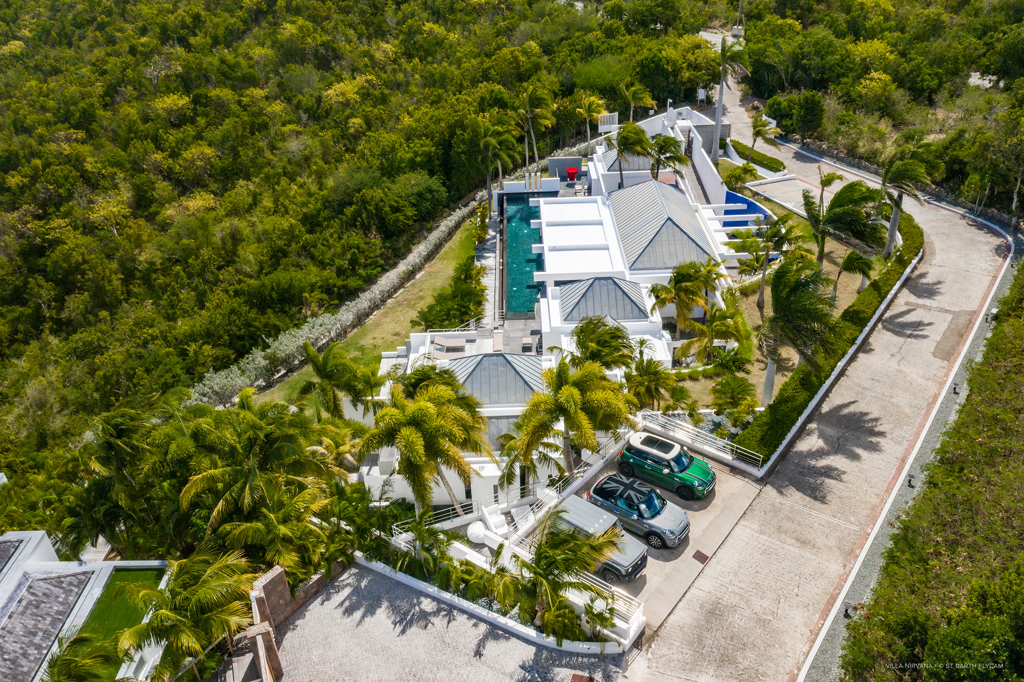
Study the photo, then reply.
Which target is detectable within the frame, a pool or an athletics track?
pool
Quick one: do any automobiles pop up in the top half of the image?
No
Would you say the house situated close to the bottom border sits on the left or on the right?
left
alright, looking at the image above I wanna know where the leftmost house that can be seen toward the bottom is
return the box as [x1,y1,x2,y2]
[0,529,178,682]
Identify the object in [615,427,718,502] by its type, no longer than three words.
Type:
car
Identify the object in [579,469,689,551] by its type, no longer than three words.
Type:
car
